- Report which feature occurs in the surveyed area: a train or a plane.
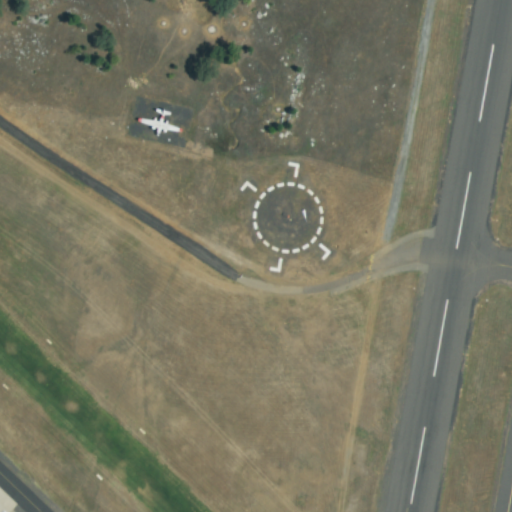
plane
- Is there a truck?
No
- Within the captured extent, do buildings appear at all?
No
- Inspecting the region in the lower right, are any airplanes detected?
No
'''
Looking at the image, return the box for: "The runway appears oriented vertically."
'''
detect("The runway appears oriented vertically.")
[384,0,512,512]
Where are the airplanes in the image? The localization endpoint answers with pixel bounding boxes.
[138,108,183,136]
